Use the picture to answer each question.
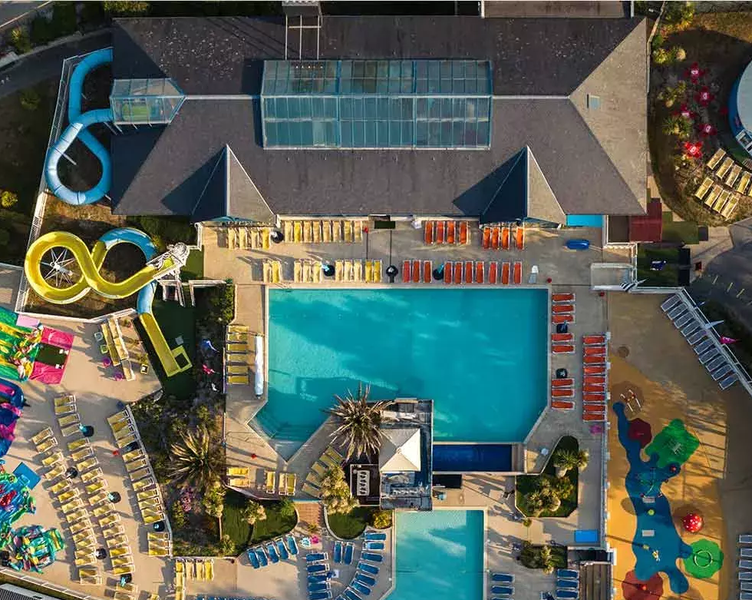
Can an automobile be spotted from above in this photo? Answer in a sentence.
No, I can see no automobile in this picture.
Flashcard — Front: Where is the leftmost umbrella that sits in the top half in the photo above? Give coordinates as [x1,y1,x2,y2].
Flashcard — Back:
[270,227,283,242]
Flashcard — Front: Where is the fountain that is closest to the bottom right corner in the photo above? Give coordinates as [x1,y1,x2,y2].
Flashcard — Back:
[680,511,702,532]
